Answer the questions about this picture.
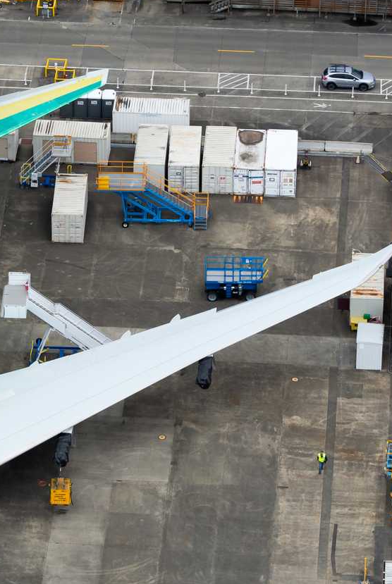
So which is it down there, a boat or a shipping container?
shipping container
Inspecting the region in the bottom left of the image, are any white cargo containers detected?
No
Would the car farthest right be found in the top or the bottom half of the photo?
top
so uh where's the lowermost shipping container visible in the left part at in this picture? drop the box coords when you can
[51,173,91,243]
